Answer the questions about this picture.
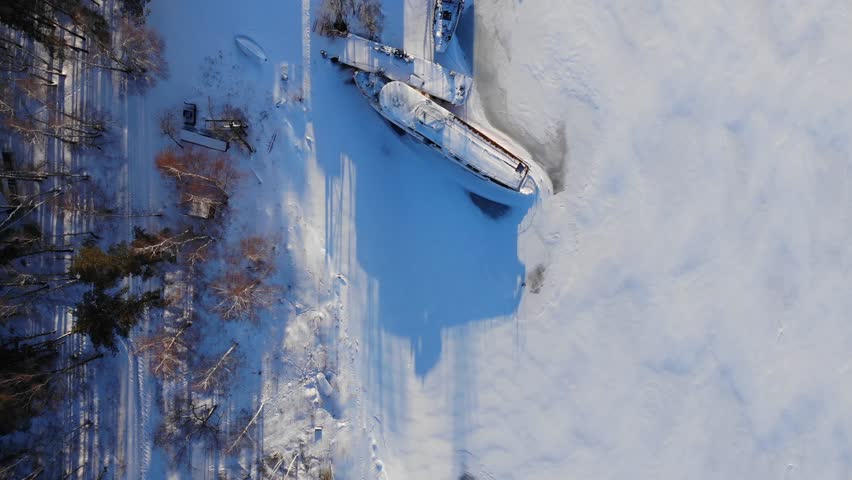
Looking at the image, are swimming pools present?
No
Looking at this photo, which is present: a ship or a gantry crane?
ship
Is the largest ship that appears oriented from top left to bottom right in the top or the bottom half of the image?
top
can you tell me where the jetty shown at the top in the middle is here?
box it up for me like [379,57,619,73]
[337,34,471,106]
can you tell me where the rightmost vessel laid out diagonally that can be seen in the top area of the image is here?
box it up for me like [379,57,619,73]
[355,73,535,197]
